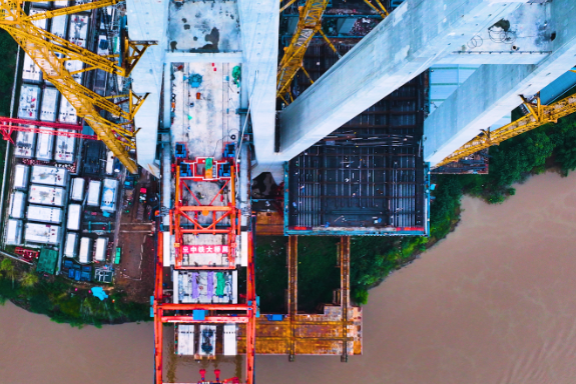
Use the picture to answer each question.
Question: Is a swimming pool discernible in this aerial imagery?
No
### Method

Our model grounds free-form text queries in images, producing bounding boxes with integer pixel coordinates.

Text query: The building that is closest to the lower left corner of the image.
[38,247,62,273]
